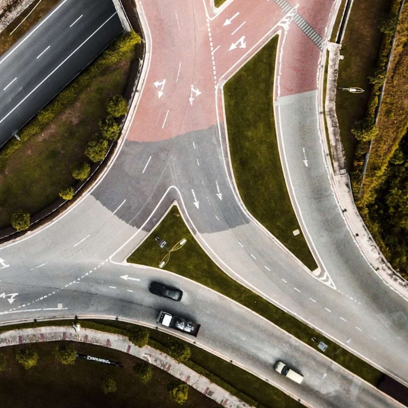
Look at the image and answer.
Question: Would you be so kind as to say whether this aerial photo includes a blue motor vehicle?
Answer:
No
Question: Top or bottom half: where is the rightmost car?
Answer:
bottom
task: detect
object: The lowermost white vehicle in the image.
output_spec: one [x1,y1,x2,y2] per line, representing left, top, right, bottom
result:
[274,362,306,386]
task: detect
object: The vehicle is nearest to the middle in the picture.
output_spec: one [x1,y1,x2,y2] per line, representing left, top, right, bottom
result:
[150,282,183,302]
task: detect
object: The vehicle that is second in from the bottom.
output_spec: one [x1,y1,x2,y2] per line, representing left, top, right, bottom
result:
[156,310,201,339]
